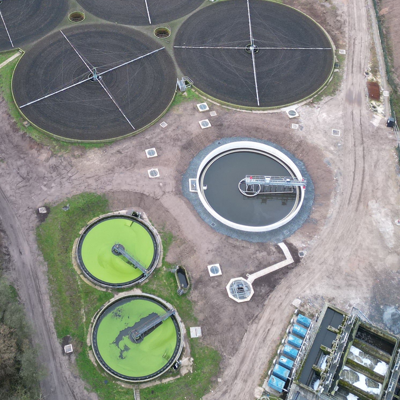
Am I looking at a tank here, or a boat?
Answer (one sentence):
Visible in the photo is a tank.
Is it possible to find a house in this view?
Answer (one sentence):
No, the frame has no house in it.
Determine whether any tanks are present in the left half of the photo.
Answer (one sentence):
Yes, looking in the left half of the photo, one can make out a tank.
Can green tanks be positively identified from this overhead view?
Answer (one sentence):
Yes, this view includes a green tank.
